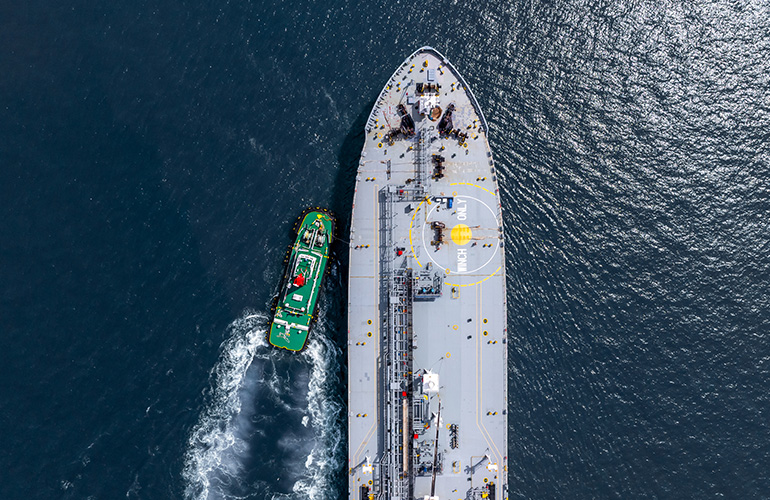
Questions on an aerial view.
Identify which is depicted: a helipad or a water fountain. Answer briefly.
helipad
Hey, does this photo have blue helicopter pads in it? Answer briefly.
No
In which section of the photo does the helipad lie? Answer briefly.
center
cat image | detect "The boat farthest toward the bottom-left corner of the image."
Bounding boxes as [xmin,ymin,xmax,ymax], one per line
[267,205,338,353]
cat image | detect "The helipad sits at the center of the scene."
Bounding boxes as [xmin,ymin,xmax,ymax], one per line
[410,183,502,286]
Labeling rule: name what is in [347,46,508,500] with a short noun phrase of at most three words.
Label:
ship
